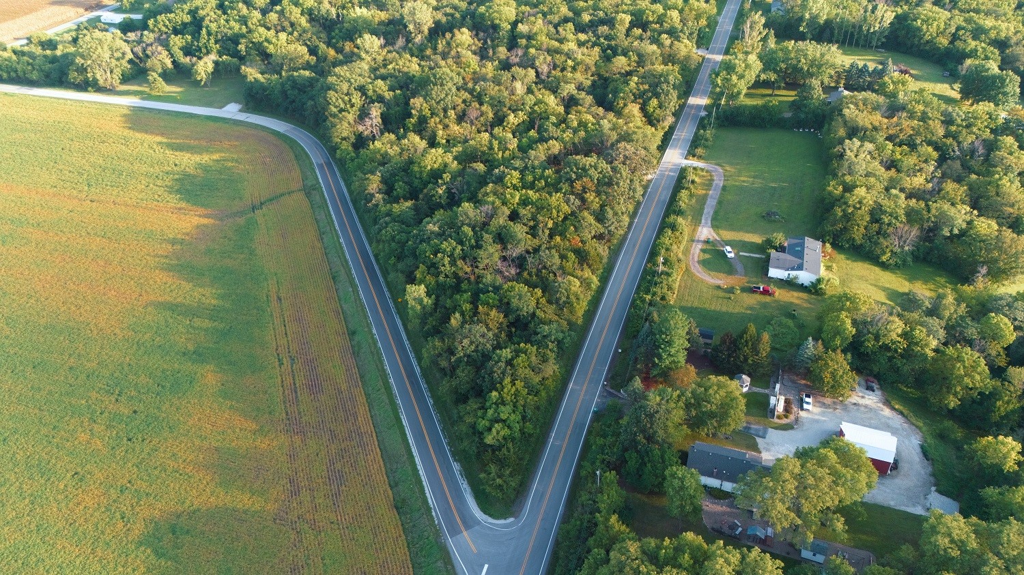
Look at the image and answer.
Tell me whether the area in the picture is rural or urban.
rural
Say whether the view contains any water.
No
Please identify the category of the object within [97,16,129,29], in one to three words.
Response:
barn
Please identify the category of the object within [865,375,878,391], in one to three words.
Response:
vehicle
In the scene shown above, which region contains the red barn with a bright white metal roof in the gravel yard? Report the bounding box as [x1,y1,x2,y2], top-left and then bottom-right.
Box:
[840,424,896,476]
